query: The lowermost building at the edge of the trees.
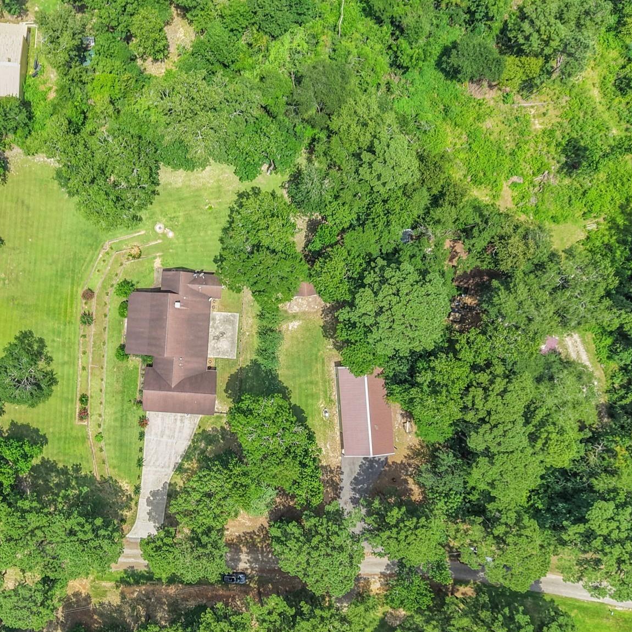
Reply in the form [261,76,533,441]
[335,364,396,457]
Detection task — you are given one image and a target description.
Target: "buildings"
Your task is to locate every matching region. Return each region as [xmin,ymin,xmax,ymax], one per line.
[124,271,222,414]
[335,364,396,457]
[0,22,31,106]
[293,278,318,297]
[537,336,558,354]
